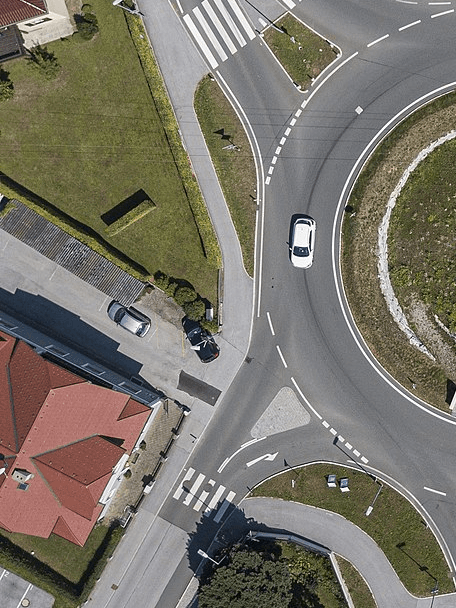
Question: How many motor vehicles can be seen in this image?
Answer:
three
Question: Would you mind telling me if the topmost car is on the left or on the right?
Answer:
right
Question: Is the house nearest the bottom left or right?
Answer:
left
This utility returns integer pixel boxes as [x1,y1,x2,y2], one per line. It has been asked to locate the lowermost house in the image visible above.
[0,313,162,546]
